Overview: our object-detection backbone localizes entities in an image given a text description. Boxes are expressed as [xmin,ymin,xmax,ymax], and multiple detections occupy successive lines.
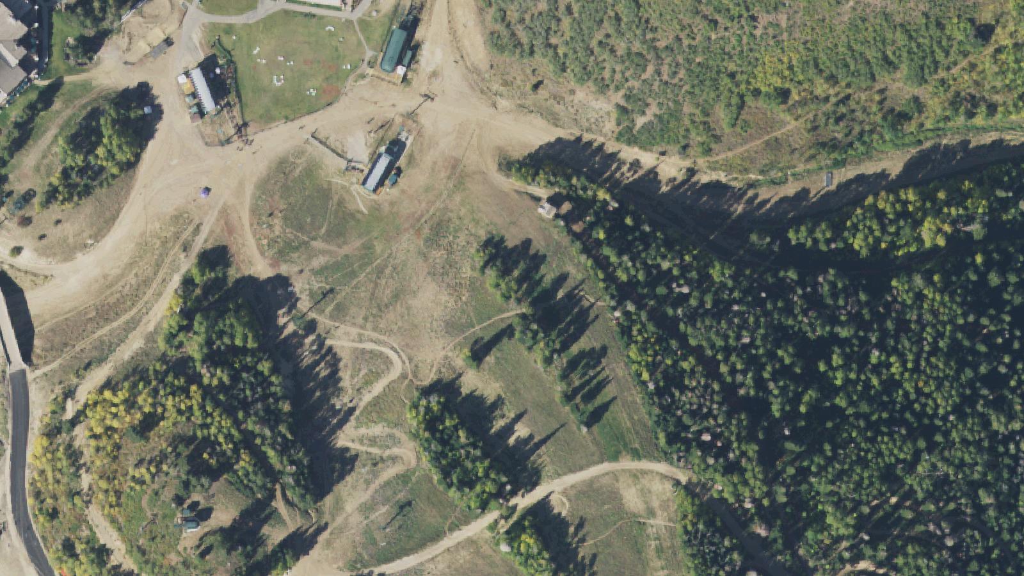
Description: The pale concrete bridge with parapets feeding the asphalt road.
[0,291,31,370]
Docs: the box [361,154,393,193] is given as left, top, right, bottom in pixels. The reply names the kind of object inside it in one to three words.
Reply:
building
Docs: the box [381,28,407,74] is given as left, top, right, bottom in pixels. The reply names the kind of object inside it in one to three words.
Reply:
building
